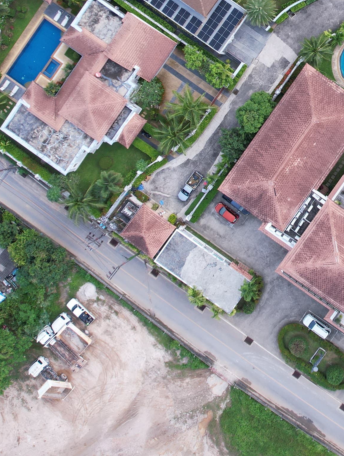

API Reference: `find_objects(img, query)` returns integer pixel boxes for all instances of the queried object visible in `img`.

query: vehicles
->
[19,357,67,410]
[65,299,92,328]
[303,316,331,339]
[213,204,238,225]
[219,196,250,219]
[26,330,81,373]
[39,310,87,356]
[177,171,202,202]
